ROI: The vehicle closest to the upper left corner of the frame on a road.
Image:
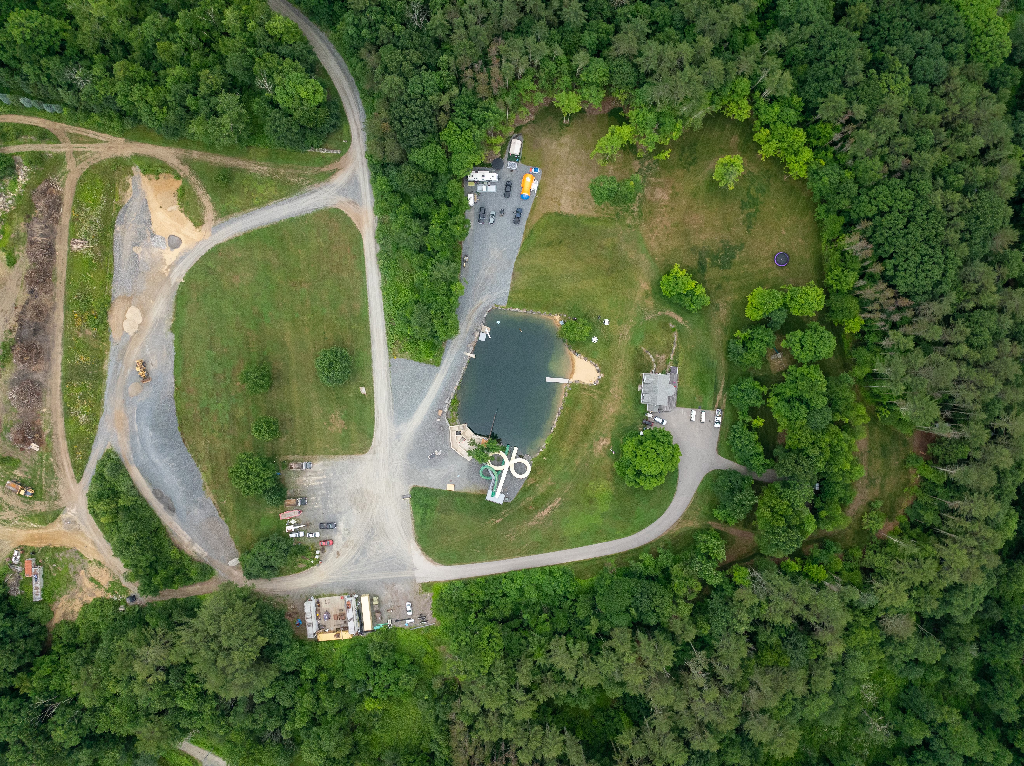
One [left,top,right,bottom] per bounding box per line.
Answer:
[135,358,152,382]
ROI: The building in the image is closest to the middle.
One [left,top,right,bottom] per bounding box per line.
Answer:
[640,373,679,412]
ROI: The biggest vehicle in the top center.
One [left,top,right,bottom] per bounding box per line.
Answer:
[468,170,501,182]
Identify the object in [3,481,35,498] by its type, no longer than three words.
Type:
vehicle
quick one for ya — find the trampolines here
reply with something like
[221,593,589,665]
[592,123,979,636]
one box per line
[774,252,789,266]
[491,158,504,170]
